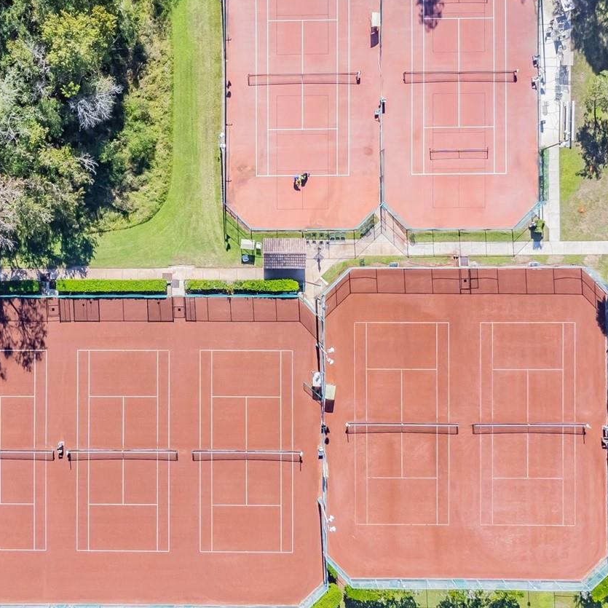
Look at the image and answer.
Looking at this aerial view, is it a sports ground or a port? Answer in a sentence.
The area seen from above is a sports ground.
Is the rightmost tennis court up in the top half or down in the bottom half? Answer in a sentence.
You can find the rightmost tennis court in the bottom half.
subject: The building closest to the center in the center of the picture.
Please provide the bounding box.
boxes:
[263,238,306,270]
